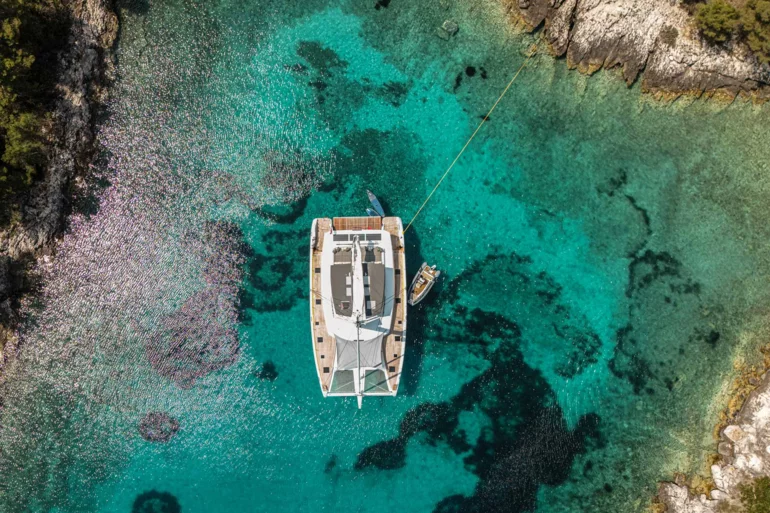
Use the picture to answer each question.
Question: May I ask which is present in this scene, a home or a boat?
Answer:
boat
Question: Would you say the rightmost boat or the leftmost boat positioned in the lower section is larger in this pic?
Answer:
the leftmost boat positioned in the lower section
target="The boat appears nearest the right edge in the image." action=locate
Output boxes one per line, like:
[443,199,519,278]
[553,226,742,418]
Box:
[408,263,439,305]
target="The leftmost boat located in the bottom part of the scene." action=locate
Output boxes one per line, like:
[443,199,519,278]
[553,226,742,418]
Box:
[310,217,408,408]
